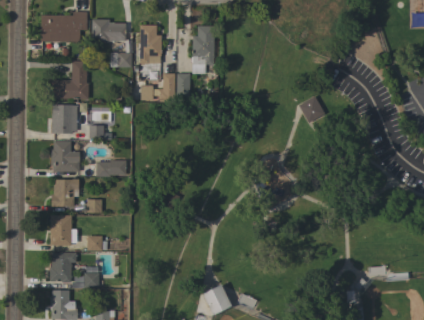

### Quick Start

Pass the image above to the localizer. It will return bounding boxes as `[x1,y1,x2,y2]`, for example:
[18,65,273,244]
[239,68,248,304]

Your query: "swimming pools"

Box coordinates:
[86,147,107,160]
[102,253,114,275]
